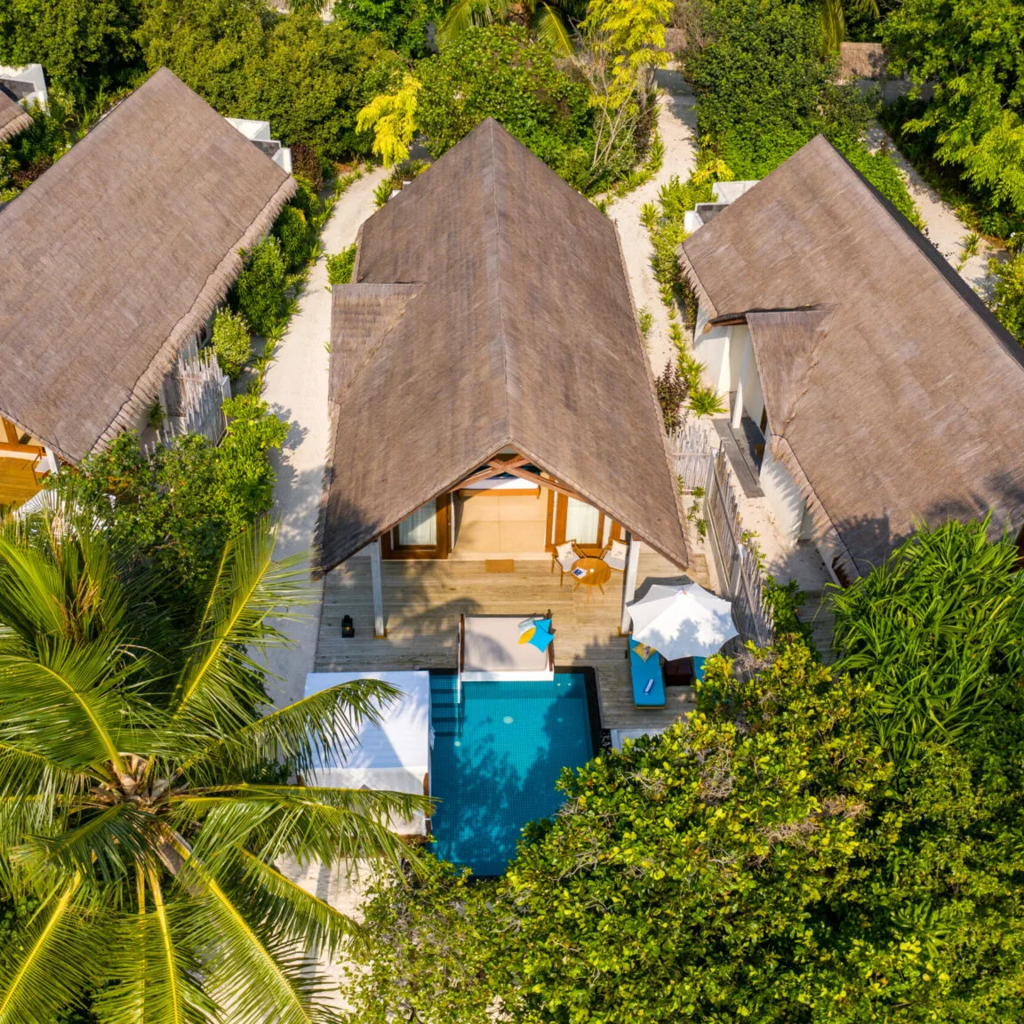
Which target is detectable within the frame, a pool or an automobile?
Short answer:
pool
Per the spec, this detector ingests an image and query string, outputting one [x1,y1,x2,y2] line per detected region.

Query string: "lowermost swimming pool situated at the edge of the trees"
[413,666,608,888]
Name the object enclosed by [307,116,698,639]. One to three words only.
house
